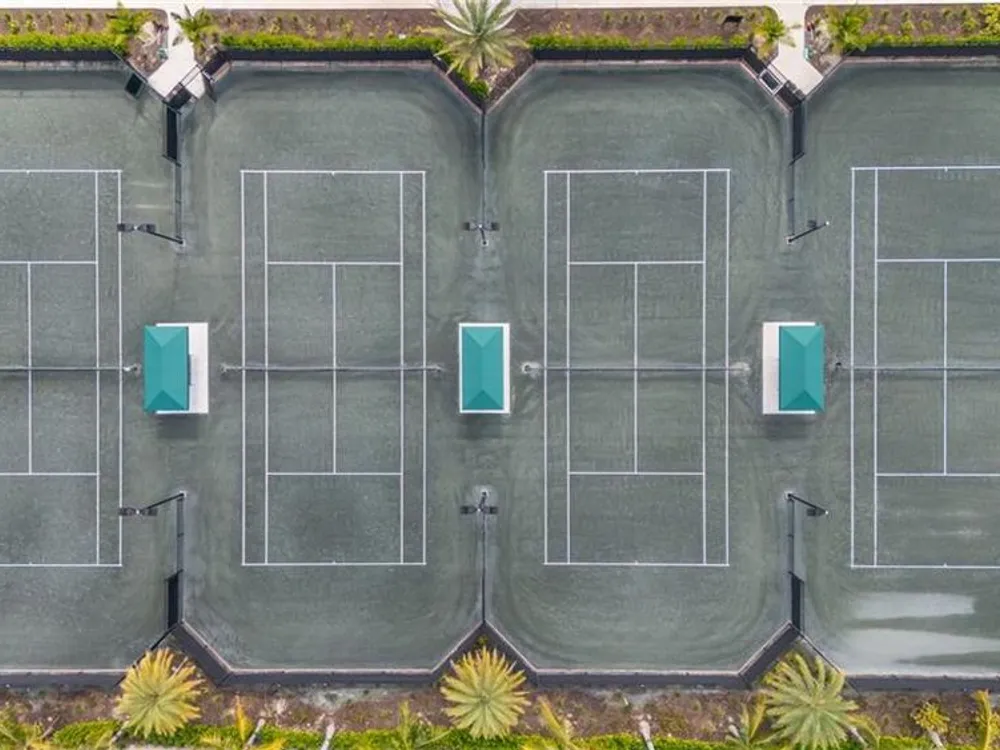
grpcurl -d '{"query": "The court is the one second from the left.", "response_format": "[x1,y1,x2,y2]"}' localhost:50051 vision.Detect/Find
[181,60,484,673]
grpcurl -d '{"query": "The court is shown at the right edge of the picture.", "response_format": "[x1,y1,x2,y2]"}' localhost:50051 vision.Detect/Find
[790,57,1000,675]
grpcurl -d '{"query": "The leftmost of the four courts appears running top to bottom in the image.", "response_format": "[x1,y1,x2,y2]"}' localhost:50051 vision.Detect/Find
[0,62,183,672]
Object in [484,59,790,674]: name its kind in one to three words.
tennis court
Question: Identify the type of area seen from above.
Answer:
sports ground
